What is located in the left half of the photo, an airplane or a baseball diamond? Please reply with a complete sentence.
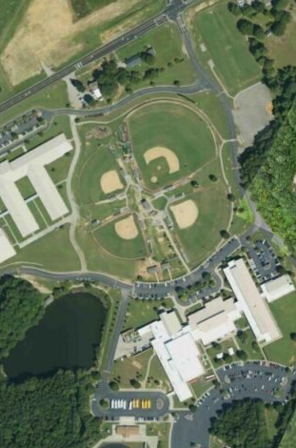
The feature located in the left half of the photo is a baseball diamond.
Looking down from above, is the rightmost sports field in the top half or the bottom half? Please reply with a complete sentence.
You can find the rightmost sports field in the top half.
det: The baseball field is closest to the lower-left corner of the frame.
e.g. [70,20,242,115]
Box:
[91,211,147,260]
